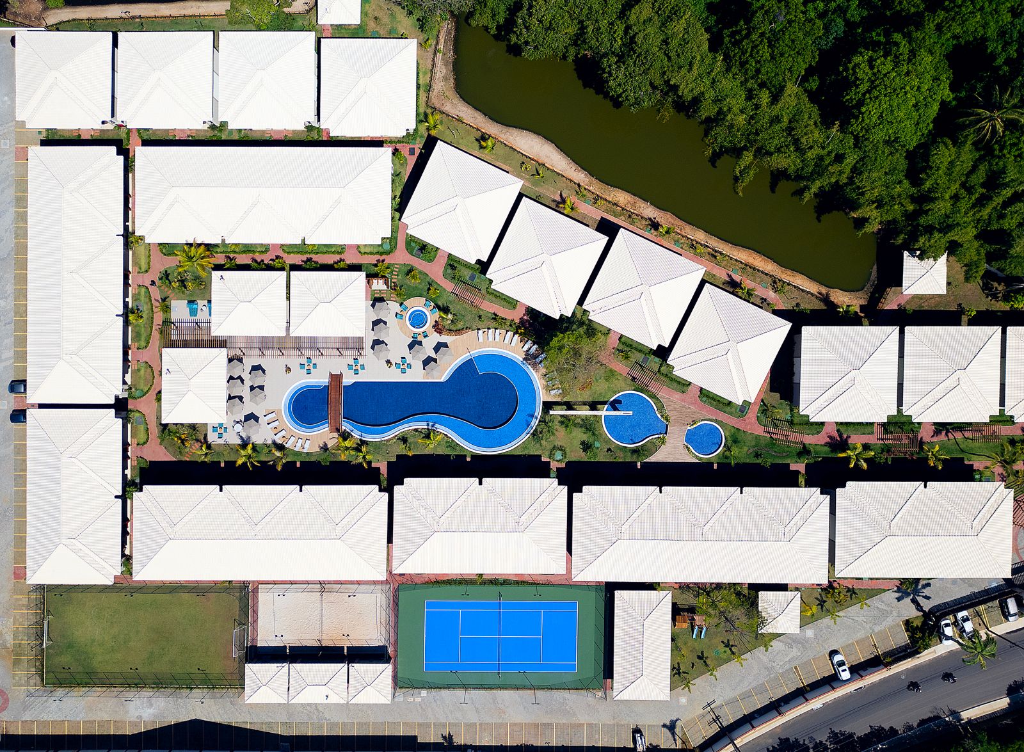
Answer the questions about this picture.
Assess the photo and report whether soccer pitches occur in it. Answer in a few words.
Yes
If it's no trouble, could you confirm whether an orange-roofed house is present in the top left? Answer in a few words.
No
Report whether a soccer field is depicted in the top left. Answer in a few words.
No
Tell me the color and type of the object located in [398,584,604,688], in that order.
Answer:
blue tennis court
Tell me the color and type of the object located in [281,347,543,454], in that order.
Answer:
blue swimming pool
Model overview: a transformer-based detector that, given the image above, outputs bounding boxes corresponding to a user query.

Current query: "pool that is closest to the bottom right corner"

[685,421,725,457]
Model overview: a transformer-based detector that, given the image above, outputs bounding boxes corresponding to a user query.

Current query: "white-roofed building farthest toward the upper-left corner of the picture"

[15,31,127,129]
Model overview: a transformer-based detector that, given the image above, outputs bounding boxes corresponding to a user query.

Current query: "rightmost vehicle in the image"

[1000,597,1019,624]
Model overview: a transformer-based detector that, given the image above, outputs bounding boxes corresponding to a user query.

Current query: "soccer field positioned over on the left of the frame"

[43,583,249,687]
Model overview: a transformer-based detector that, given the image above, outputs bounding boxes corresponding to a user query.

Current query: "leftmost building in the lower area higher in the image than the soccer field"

[26,408,131,585]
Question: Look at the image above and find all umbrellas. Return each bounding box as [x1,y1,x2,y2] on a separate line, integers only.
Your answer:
[374,322,391,340]
[250,369,267,385]
[411,345,428,361]
[228,359,246,377]
[426,360,441,378]
[374,302,392,318]
[228,379,246,395]
[437,346,453,364]
[251,387,267,405]
[245,419,261,437]
[227,398,245,415]
[373,343,391,360]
